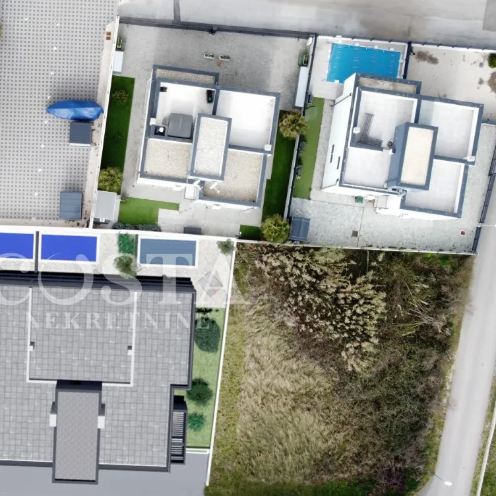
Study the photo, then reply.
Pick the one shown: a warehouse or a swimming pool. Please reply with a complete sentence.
The image shows a swimming pool.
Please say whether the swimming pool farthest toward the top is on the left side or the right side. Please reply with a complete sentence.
The swimming pool farthest toward the top appears in the right half of the scene.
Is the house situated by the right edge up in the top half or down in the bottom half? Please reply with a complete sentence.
The top half of the photo is where the house situated by the right edge is.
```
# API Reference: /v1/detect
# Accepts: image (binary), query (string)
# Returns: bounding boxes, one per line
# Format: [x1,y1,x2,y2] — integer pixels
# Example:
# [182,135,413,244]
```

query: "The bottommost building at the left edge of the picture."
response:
[0,270,196,485]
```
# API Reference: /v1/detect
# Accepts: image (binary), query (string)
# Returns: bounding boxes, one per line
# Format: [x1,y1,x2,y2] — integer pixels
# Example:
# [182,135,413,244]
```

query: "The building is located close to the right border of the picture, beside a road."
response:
[320,72,485,222]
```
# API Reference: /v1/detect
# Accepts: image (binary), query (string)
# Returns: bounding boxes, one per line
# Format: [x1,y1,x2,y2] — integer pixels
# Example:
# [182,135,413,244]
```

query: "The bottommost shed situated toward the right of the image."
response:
[286,217,310,240]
